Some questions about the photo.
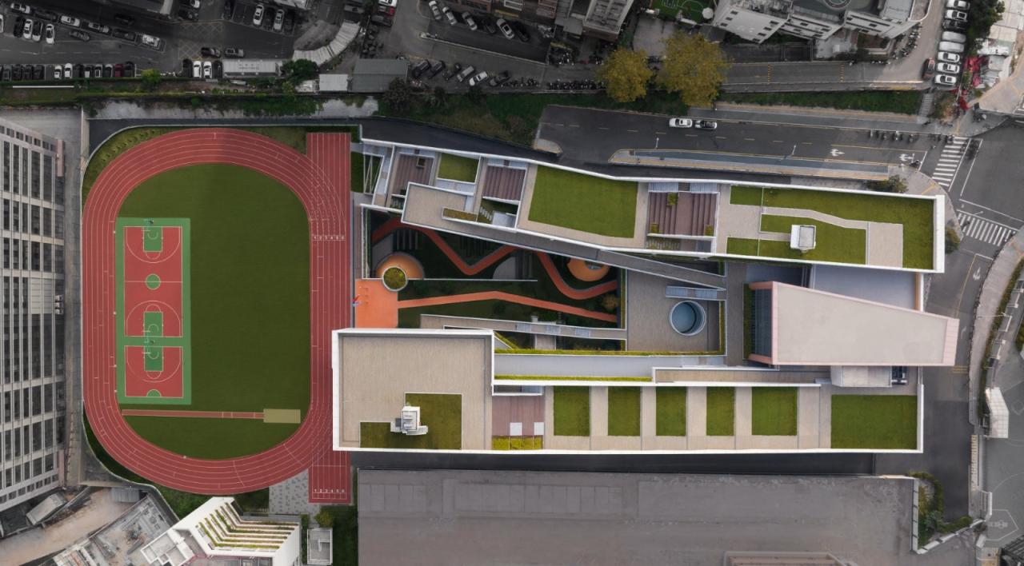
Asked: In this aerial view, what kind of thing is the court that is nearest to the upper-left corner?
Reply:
basketball court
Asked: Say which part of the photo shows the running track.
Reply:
left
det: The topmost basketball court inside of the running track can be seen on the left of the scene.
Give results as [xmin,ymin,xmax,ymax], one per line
[117,218,191,342]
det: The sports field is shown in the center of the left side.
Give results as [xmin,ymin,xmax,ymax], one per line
[116,163,311,460]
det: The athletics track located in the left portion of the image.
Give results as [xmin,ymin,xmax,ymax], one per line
[83,129,351,505]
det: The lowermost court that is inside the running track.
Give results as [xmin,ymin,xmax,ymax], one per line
[117,342,191,404]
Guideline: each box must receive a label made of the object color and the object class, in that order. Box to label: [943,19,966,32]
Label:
black vehicle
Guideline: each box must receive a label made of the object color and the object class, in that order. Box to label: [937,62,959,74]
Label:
white vehicle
